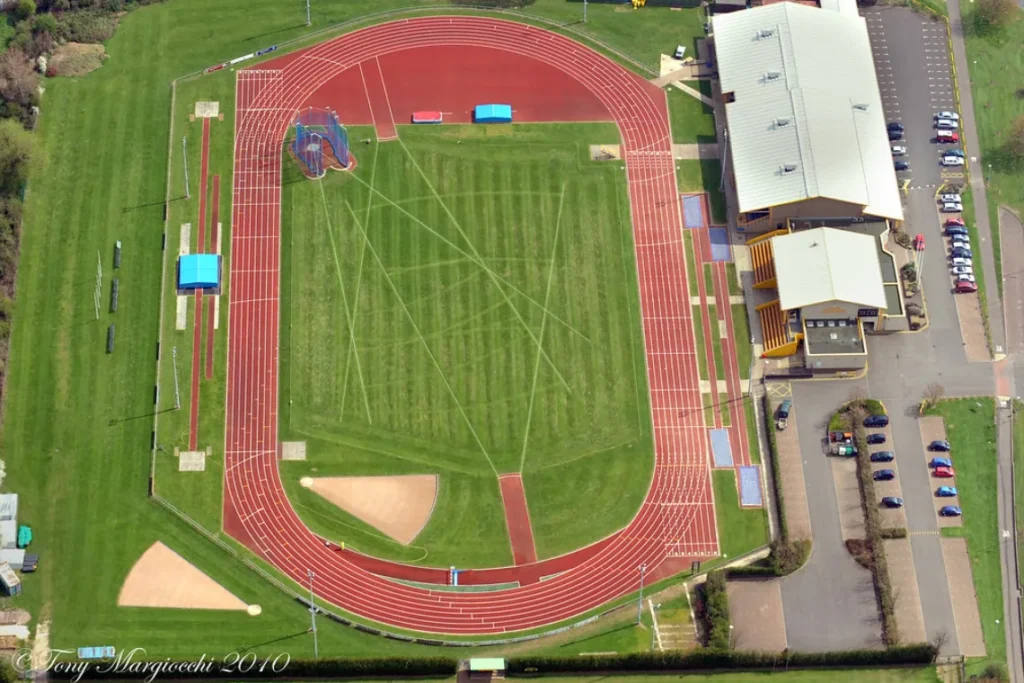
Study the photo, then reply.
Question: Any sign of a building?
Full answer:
Yes, the picture does show a building.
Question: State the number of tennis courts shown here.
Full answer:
The photo contains no tennis courts.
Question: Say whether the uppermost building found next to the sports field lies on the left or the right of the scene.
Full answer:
The uppermost building found next to the sports field appears in the right half of the scene.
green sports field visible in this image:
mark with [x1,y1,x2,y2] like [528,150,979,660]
[279,122,655,569]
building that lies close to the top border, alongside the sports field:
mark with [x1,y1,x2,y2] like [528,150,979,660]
[712,0,903,244]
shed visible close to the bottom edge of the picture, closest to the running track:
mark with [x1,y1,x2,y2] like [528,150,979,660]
[470,658,504,680]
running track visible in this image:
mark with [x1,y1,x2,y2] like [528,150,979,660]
[220,14,720,634]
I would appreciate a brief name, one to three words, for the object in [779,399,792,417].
vehicle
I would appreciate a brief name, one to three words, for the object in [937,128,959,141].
vehicle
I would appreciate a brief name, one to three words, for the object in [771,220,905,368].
building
